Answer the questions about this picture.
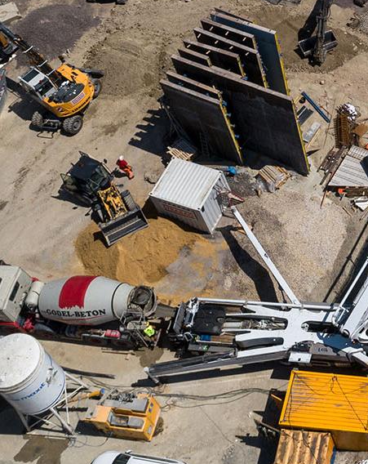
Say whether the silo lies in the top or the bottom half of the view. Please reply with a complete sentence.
It is in the bottom half that the silo appears.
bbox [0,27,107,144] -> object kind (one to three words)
work vehicle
